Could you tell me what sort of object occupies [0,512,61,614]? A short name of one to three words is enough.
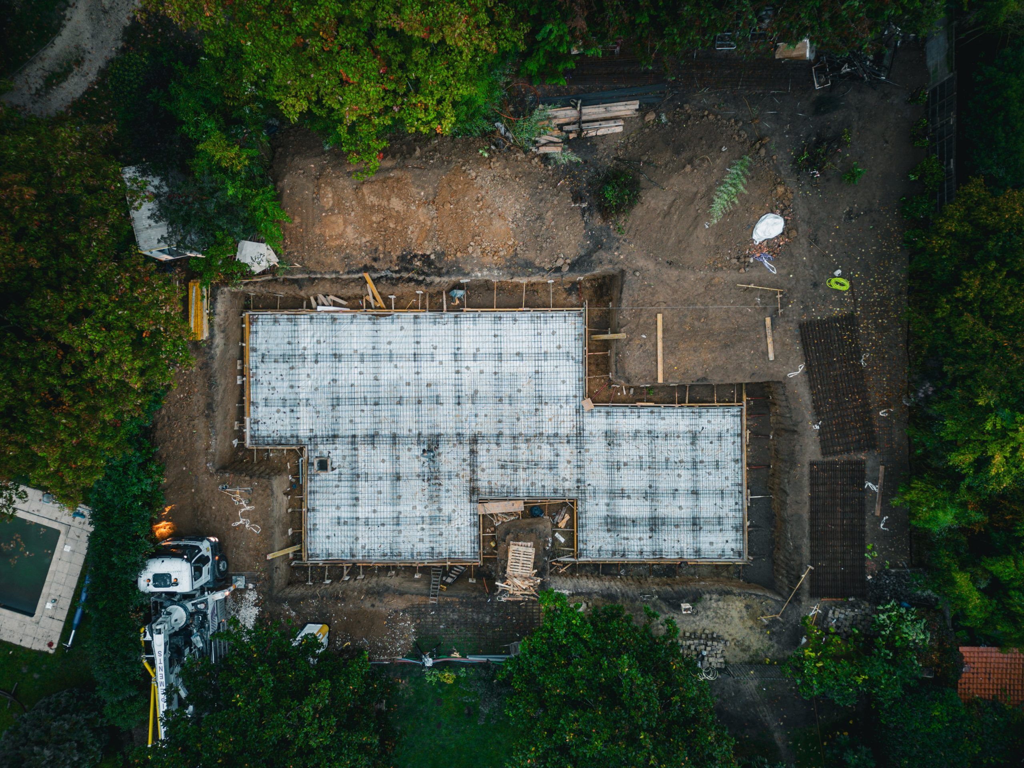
swimming pool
